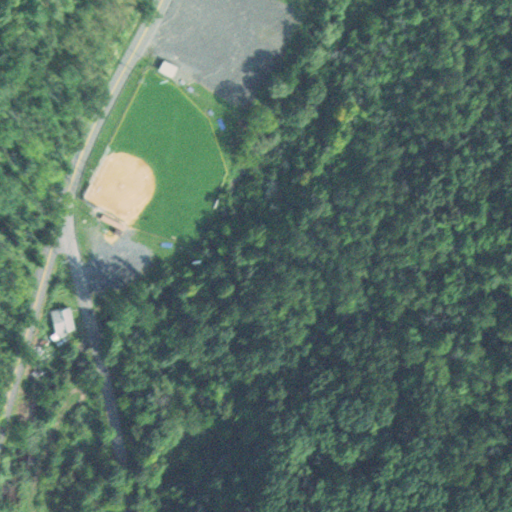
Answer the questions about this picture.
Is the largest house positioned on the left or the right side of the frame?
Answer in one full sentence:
It is on the left.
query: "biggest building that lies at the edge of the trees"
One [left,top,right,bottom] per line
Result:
[51,308,74,336]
